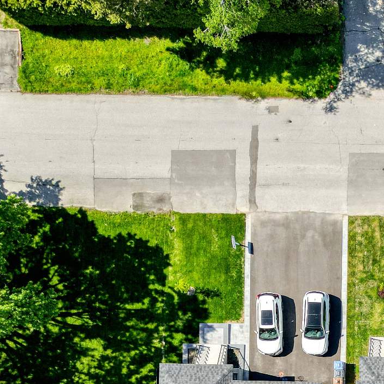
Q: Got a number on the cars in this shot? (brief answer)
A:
two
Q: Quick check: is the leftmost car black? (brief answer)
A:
No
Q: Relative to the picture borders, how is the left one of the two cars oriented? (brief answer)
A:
vertically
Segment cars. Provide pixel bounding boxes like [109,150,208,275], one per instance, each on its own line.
[252,291,284,355]
[298,290,331,356]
